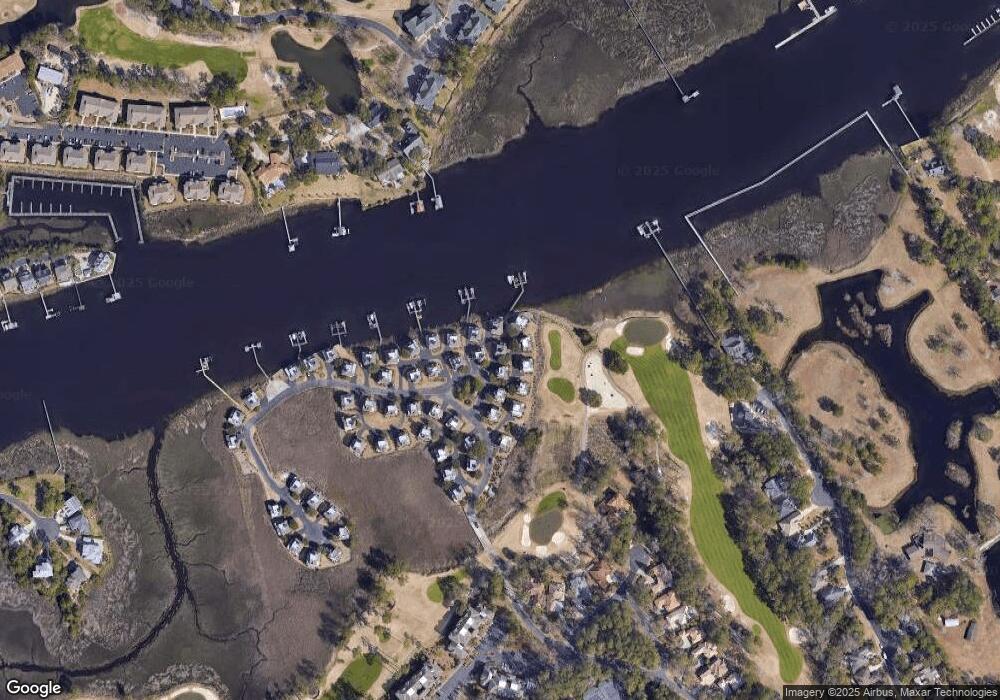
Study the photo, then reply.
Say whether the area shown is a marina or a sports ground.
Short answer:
marina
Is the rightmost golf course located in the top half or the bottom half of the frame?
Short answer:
bottom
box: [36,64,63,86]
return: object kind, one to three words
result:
building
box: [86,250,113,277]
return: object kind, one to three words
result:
house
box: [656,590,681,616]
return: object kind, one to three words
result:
house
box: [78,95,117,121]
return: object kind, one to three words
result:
building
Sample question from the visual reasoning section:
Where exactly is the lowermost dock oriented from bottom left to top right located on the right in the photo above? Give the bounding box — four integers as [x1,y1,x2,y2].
[685,111,908,290]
